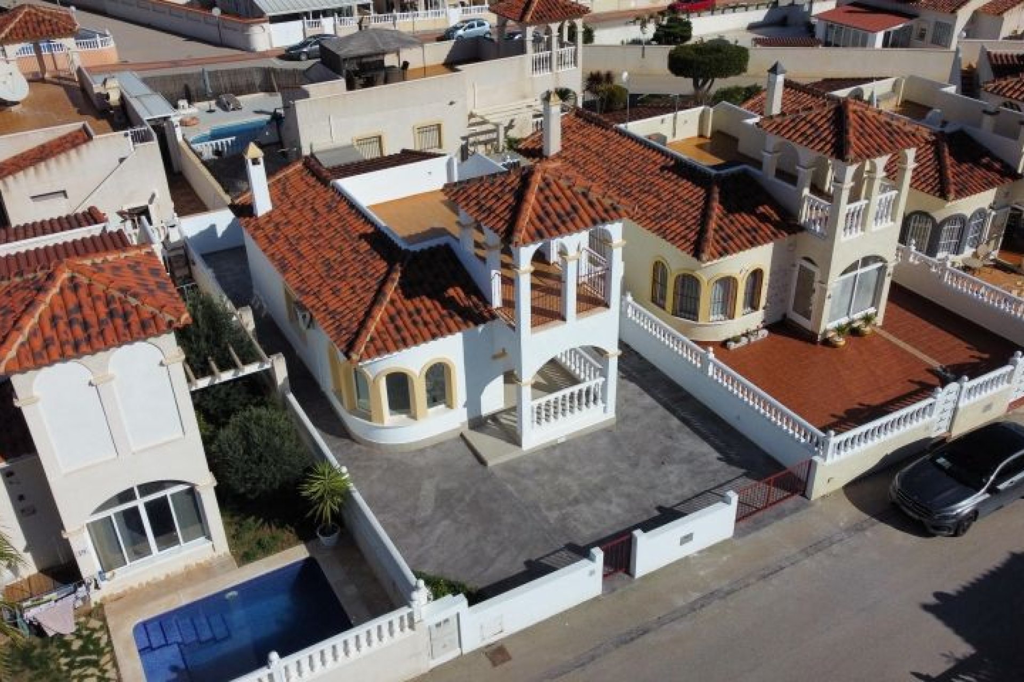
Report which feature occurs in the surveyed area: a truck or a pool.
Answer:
pool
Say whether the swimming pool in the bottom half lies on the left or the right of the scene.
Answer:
left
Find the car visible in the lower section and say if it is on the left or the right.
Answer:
right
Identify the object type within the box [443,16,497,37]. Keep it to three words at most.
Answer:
car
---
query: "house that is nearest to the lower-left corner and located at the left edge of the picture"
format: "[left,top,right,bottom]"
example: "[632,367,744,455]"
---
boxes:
[0,203,231,615]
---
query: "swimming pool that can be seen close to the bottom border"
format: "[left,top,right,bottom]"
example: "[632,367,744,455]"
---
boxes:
[135,558,354,682]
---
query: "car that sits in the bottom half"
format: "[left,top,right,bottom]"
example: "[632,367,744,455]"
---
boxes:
[886,418,1024,533]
